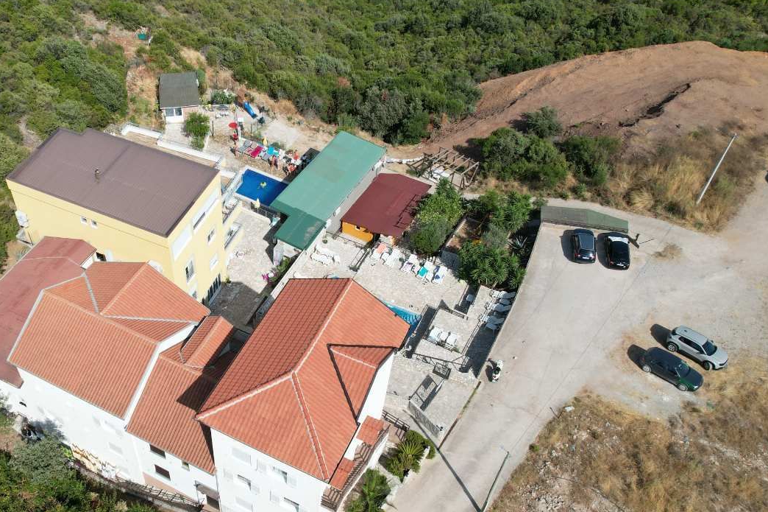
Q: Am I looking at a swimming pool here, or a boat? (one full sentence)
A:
This aerial view contains a swimming pool.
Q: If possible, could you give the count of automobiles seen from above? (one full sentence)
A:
In total, there are 4 automobiles in the scene.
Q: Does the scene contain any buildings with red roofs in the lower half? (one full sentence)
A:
Yes, the scene does show a building with a red roof in the lower half.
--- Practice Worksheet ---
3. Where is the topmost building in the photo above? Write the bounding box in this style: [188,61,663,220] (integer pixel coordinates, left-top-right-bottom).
[160,71,199,125]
